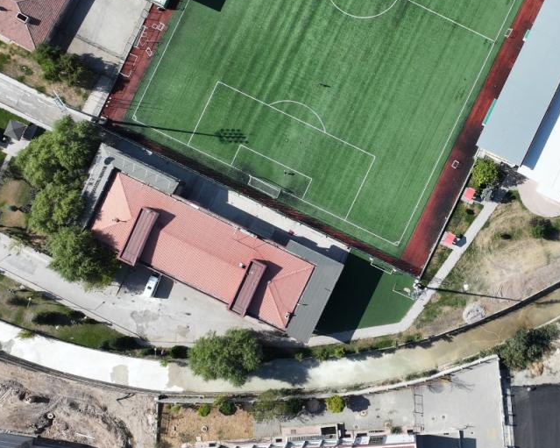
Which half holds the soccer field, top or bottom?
top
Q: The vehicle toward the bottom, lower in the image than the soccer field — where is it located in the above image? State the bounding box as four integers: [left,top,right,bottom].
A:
[142,274,159,298]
